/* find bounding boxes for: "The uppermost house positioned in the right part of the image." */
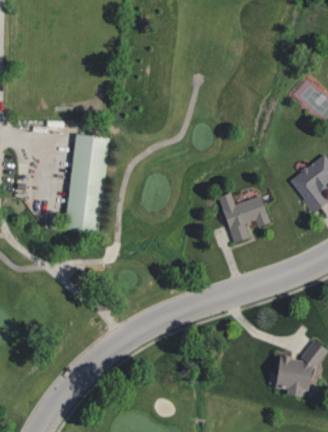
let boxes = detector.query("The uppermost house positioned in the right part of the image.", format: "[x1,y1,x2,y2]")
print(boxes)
[293,156,328,212]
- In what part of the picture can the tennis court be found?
top right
